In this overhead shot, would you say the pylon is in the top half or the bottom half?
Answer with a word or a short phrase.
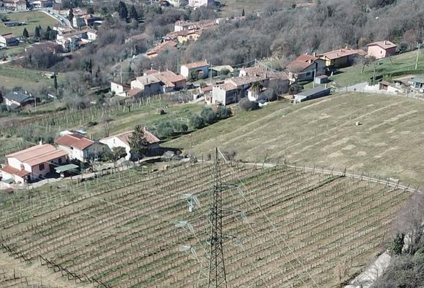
bottom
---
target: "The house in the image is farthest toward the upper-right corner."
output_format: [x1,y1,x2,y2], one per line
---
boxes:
[367,28,399,60]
